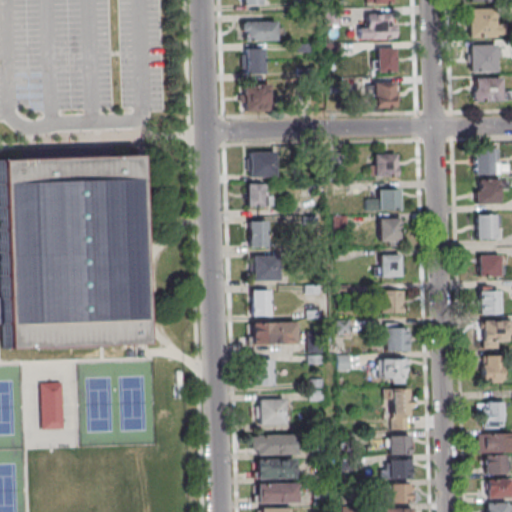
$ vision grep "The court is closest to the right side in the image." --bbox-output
[116,361,154,444]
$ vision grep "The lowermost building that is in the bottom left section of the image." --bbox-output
[39,382,64,430]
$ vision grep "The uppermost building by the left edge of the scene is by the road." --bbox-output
[0,154,154,350]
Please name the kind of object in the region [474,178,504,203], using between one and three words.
house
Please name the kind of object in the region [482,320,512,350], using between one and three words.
house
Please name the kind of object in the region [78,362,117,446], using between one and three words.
tennis court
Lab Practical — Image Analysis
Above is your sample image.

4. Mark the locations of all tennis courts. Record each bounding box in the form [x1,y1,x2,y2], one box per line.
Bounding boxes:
[0,449,24,512]
[78,362,117,446]
[116,361,154,444]
[0,366,22,448]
